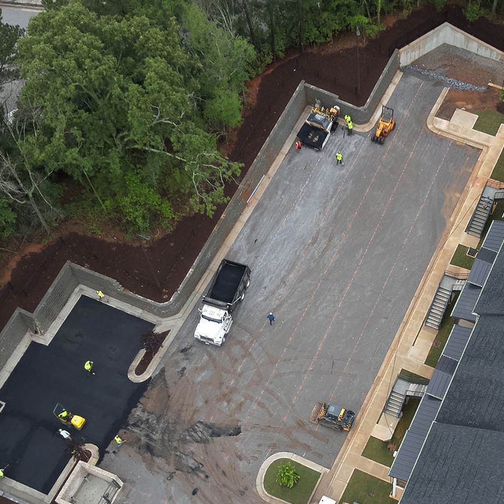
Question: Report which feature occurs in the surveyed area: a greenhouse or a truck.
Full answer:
It is a truck that can be seen here.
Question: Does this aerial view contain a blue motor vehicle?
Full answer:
No, no blue motor vehicle is visible in the scene.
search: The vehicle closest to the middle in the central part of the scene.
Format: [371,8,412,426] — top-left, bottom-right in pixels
[197,252,250,352]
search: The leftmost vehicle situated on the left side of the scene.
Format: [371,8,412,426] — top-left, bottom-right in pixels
[46,394,89,431]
